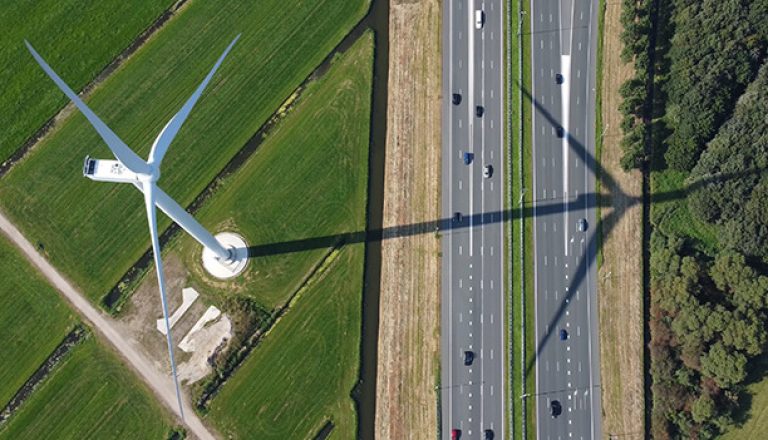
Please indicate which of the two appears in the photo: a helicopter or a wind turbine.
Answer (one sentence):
The image shows a wind turbine.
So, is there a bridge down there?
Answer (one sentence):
No, the photo shows no bridge.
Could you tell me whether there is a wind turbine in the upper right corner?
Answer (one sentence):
No, there is no wind turbine in the upper right corner.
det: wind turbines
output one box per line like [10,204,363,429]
[25,35,239,419]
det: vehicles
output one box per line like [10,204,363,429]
[476,106,482,118]
[556,127,562,138]
[556,74,561,84]
[451,430,457,440]
[464,152,470,165]
[464,352,470,365]
[560,329,566,340]
[483,166,489,178]
[452,94,458,105]
[484,430,490,440]
[476,10,482,28]
[551,400,558,416]
[578,219,584,232]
